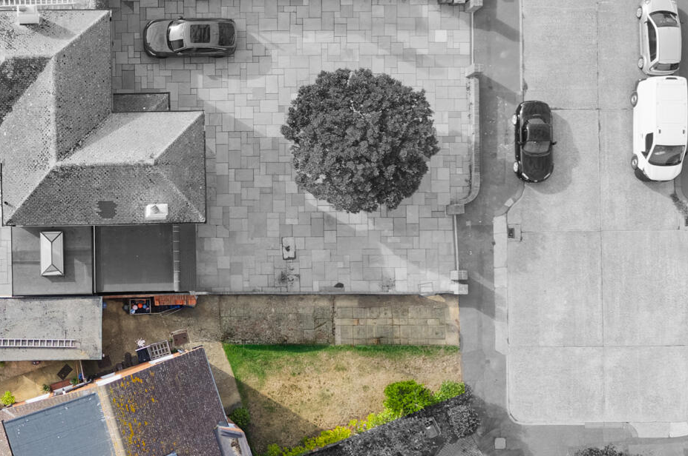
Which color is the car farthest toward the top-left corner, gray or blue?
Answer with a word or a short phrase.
gray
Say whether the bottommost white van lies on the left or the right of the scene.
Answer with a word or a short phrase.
right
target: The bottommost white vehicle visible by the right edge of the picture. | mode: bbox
[626,70,688,183]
